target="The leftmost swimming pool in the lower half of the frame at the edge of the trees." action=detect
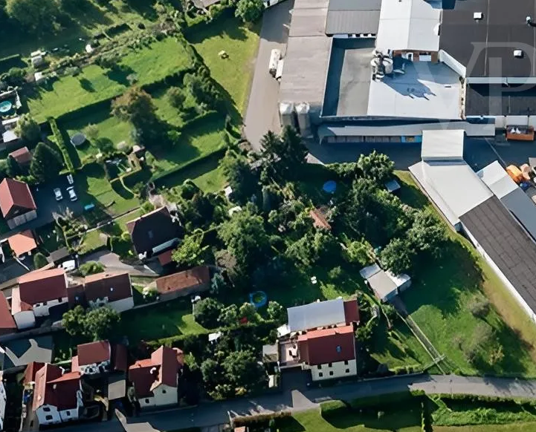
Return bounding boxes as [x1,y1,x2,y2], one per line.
[250,292,268,308]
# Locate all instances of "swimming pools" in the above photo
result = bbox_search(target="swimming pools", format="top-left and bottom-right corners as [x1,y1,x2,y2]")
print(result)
[0,100,12,112]
[250,292,268,308]
[322,180,337,193]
